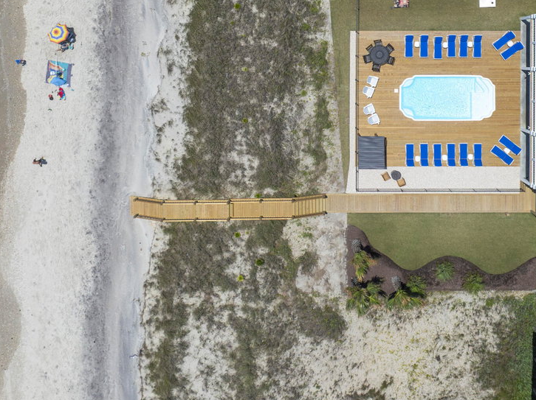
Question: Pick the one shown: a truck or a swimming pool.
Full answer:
There is a swimming pool in the scene.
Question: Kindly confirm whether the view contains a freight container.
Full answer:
No, no freight container can be seen from above.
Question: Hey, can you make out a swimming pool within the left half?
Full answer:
No, there's no swimming pool to be seen within the left half.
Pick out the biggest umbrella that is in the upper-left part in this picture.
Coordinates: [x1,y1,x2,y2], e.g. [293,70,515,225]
[44,20,67,45]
